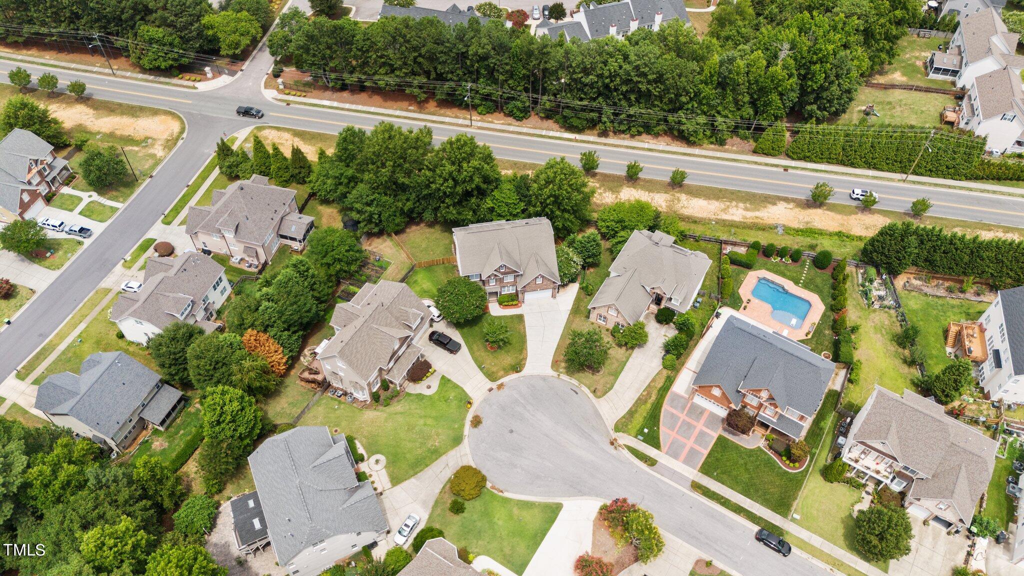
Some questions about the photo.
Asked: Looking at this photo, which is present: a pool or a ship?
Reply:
pool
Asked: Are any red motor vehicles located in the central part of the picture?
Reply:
No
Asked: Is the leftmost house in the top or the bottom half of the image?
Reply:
top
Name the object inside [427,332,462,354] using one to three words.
truck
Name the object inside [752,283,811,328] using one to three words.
swimming pool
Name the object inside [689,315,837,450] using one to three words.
house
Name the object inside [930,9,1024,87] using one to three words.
house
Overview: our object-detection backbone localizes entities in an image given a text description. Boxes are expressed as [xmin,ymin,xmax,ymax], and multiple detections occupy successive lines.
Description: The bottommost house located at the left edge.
[31,350,187,453]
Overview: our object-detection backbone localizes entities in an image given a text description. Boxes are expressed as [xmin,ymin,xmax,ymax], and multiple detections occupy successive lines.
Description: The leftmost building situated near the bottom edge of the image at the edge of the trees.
[231,425,389,574]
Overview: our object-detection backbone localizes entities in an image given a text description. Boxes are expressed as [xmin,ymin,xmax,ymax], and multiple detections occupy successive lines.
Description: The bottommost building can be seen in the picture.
[393,537,487,576]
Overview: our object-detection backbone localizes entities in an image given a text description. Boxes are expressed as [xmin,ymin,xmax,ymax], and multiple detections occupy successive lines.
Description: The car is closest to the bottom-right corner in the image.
[755,529,794,560]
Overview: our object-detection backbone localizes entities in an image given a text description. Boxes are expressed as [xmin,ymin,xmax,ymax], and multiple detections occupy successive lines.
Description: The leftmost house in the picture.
[0,138,75,226]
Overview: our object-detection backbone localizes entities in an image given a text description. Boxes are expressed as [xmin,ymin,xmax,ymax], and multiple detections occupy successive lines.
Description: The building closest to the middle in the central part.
[453,217,561,303]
